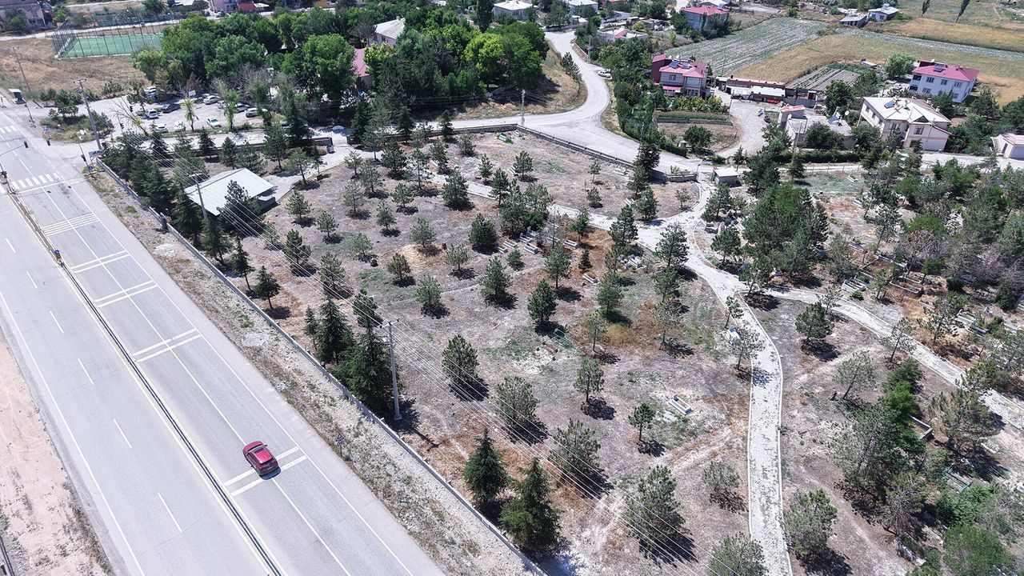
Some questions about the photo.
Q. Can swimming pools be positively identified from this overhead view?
No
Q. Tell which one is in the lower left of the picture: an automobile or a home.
automobile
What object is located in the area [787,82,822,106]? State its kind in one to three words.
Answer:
building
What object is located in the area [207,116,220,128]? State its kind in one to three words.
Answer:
vehicle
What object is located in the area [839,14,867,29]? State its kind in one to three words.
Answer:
shed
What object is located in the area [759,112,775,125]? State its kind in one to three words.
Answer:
vehicle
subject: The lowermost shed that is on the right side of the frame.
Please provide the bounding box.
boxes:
[714,163,741,186]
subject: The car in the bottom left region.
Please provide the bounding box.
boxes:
[242,443,280,483]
